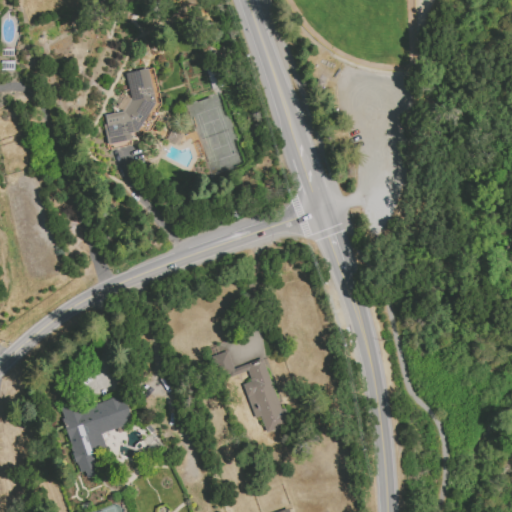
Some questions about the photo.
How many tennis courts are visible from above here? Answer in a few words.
1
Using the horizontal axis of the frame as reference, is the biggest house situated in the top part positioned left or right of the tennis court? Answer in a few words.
to the left of it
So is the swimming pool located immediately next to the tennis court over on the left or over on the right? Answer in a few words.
left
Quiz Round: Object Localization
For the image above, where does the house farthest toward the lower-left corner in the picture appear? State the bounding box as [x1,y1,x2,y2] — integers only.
[61,400,128,478]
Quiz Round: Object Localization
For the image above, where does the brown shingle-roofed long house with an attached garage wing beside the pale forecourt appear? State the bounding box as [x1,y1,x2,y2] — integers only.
[210,347,282,428]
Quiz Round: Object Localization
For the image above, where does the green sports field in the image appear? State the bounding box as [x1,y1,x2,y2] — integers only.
[288,0,416,71]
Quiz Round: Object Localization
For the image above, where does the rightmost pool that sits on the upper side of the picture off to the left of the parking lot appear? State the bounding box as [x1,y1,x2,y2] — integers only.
[146,140,197,170]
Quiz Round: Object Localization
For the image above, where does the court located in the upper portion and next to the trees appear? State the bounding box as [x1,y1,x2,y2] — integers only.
[187,94,242,174]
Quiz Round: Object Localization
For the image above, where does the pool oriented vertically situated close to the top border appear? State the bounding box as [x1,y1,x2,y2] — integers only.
[2,13,18,48]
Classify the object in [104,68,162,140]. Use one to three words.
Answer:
house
